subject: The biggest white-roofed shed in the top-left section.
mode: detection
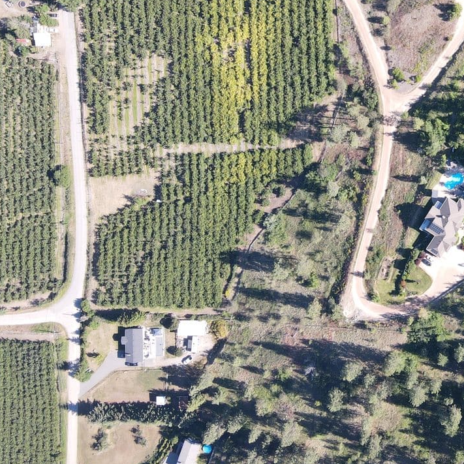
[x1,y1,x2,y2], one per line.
[33,32,55,47]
